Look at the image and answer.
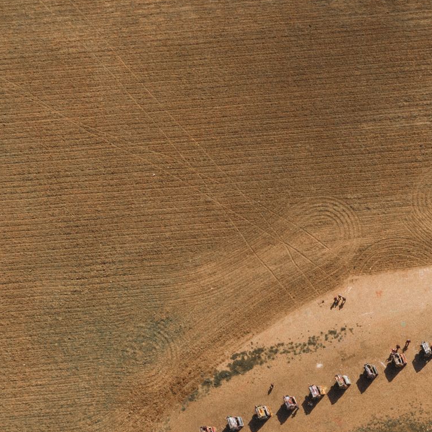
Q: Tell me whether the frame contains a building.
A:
No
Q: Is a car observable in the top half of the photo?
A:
No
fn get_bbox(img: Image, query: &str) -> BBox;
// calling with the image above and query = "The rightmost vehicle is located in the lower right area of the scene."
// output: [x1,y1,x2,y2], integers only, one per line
[419,339,432,355]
